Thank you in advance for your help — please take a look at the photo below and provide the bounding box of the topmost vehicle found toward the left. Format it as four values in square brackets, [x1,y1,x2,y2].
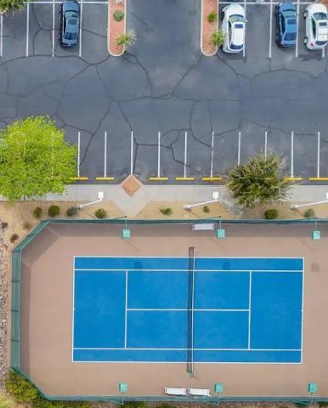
[58,1,81,49]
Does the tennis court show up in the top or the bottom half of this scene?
bottom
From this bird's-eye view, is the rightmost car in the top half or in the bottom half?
top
